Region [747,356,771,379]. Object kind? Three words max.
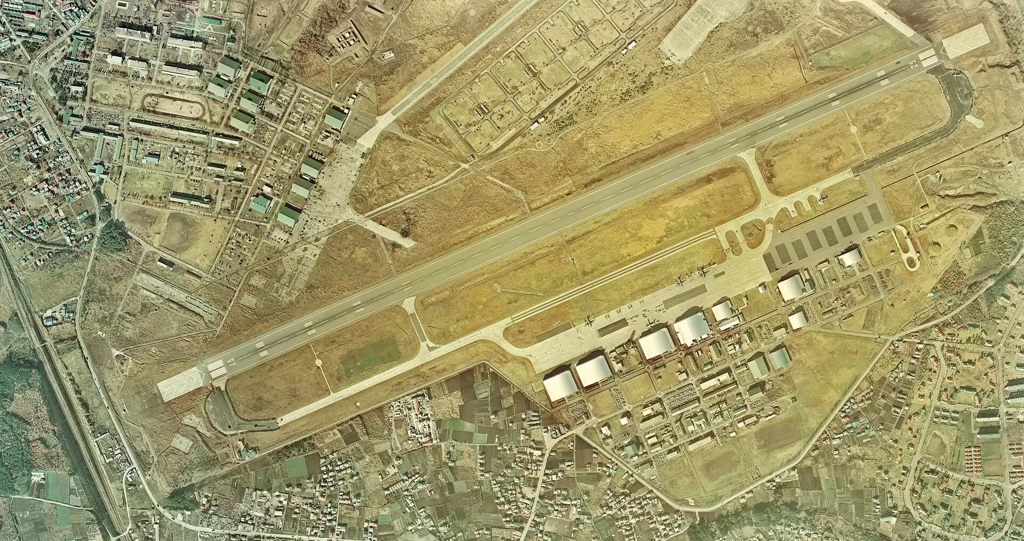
hangar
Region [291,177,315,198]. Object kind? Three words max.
hangar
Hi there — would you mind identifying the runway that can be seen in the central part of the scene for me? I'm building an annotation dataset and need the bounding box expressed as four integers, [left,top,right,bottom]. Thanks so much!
[200,42,947,384]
